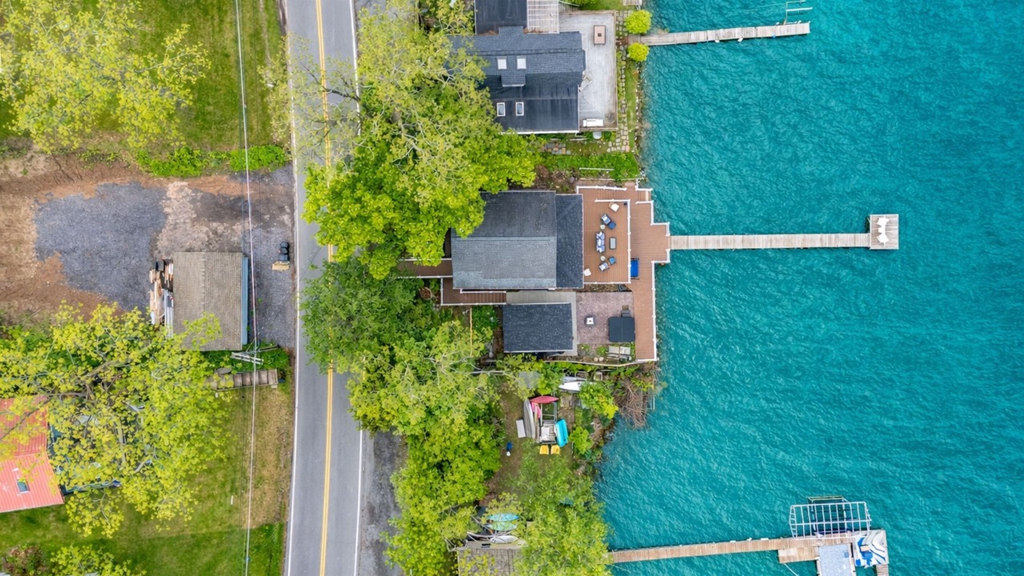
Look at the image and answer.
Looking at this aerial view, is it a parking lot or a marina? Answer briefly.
marina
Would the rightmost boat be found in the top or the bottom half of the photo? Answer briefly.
bottom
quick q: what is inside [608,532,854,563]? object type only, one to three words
pier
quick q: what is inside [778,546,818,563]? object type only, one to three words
pier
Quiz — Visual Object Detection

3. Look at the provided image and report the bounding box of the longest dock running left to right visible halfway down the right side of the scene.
[671,233,869,249]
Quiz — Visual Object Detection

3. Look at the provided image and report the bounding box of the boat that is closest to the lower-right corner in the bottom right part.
[816,542,854,576]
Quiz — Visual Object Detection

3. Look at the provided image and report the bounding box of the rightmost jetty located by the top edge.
[642,20,811,47]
